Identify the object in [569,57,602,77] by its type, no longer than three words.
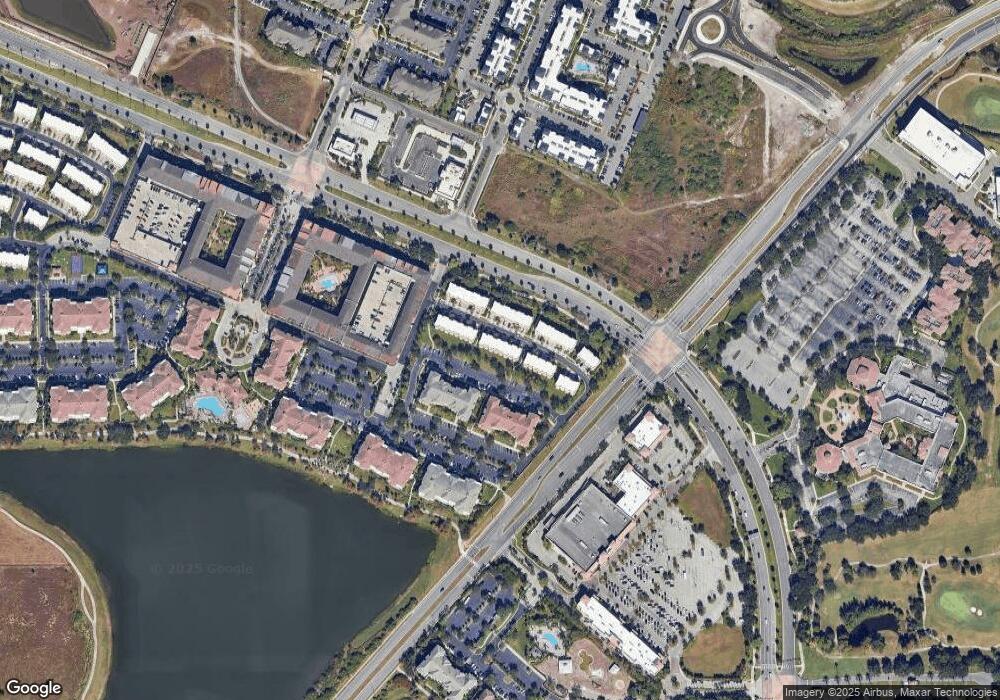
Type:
swimming pool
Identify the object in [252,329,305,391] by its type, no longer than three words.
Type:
building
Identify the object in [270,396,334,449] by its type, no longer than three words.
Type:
building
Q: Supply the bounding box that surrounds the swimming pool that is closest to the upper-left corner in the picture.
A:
[312,273,340,295]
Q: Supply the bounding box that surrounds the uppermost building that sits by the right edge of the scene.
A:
[897,107,984,185]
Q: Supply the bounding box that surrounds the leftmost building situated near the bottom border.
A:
[416,646,478,700]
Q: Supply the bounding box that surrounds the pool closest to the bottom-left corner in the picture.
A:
[186,391,240,430]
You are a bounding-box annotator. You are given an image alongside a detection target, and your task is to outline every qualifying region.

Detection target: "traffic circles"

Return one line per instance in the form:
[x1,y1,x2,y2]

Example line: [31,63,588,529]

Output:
[687,7,734,54]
